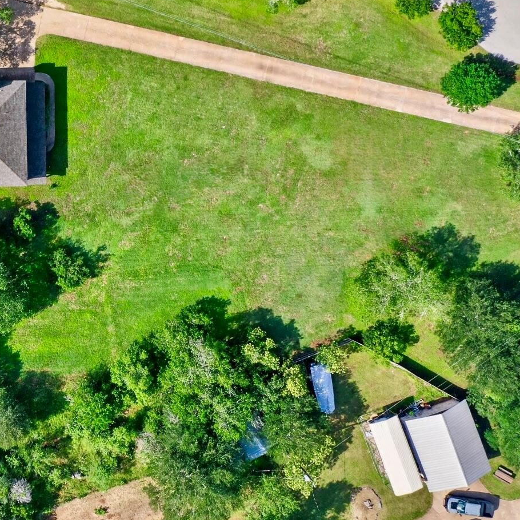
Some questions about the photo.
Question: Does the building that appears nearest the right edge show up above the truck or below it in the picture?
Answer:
above it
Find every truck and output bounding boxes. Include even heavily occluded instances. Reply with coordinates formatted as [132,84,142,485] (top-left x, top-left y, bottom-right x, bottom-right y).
[441,495,496,520]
